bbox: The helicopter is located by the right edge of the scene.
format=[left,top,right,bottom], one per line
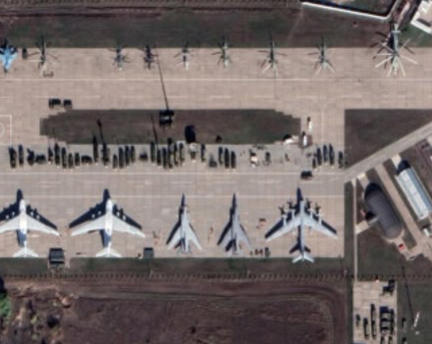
[373,27,418,73]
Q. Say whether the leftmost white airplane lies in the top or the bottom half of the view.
bottom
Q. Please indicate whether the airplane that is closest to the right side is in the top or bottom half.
bottom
